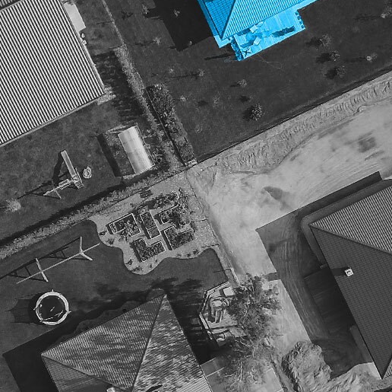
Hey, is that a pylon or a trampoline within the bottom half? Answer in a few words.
trampoline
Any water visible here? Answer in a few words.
No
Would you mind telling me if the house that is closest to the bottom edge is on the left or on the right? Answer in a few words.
left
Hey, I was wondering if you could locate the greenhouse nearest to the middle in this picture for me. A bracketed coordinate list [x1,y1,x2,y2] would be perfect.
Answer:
[118,126,154,175]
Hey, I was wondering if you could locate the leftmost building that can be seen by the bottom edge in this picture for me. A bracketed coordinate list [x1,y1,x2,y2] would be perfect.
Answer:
[38,295,209,392]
